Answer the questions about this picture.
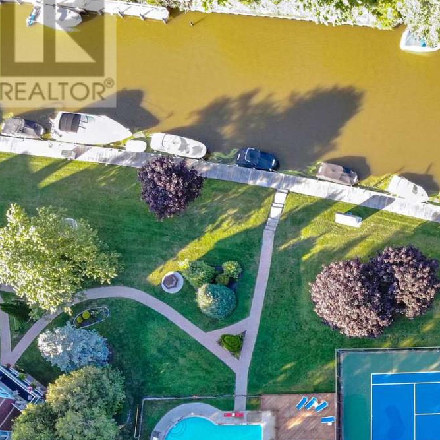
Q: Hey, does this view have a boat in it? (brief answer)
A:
Yes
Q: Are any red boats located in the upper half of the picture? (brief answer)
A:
No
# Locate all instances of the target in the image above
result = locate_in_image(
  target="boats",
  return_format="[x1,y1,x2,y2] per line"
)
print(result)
[235,148,279,171]
[0,117,46,138]
[49,109,134,155]
[34,7,83,30]
[390,175,430,203]
[315,160,358,183]
[125,139,148,150]
[400,40,440,58]
[148,130,207,161]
